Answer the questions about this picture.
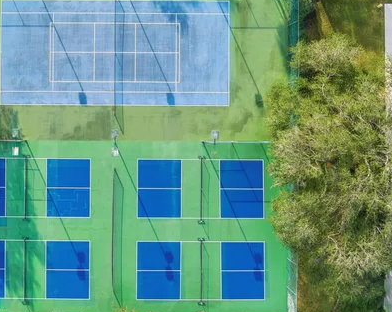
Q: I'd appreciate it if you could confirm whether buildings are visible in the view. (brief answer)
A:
No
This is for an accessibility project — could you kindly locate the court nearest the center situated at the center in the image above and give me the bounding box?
[138,159,264,219]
